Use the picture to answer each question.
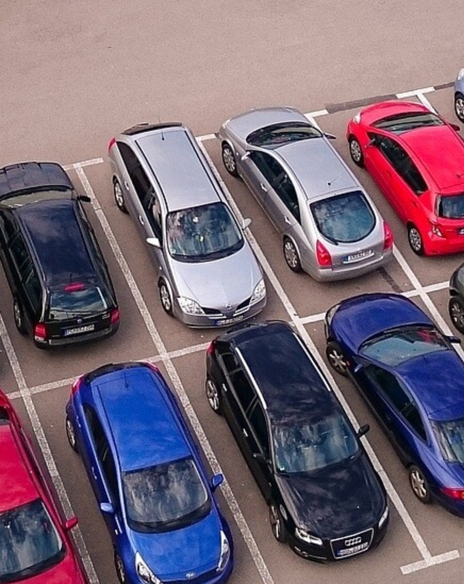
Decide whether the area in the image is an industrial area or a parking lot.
parking lot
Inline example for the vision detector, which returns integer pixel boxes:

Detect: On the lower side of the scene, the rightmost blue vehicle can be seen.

[319,289,464,520]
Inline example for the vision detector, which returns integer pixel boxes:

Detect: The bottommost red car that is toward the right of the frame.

[346,99,464,254]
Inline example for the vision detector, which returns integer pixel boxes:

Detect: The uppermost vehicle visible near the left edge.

[0,164,127,356]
